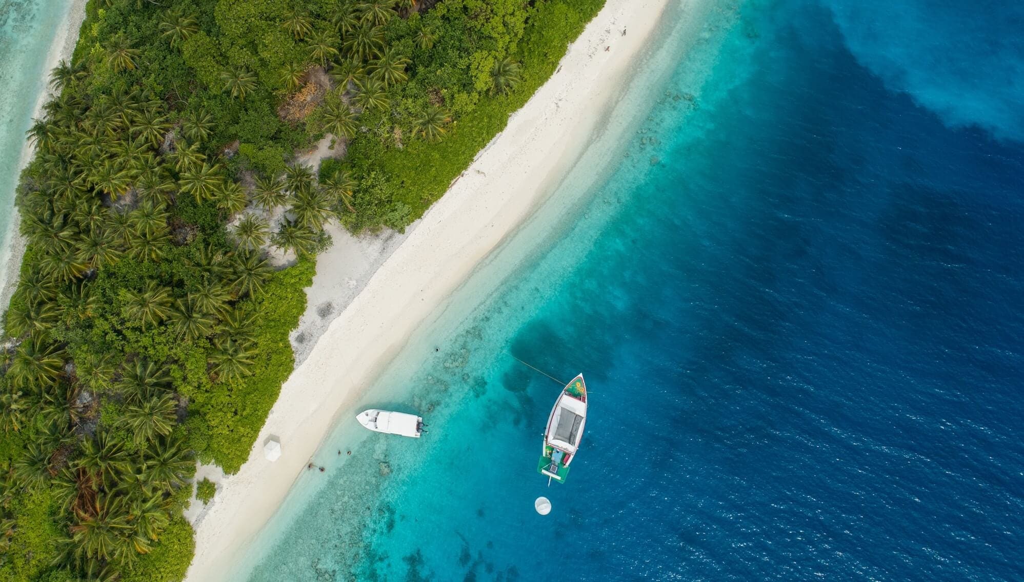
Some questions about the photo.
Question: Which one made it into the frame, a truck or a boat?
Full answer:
The one in the frame is a boat.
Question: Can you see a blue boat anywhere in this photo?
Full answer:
No, the frame has no blue boat in it.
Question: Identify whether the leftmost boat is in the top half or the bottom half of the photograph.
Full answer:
It is in the bottom half that the leftmost boat appears.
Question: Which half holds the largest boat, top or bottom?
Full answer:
The bottom half of the photo is where the largest boat is.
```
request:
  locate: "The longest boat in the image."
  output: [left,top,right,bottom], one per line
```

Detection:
[537,373,588,487]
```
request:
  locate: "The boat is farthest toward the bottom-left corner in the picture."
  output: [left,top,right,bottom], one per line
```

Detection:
[356,409,430,438]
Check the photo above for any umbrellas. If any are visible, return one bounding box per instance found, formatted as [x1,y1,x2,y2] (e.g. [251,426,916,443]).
[264,441,281,461]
